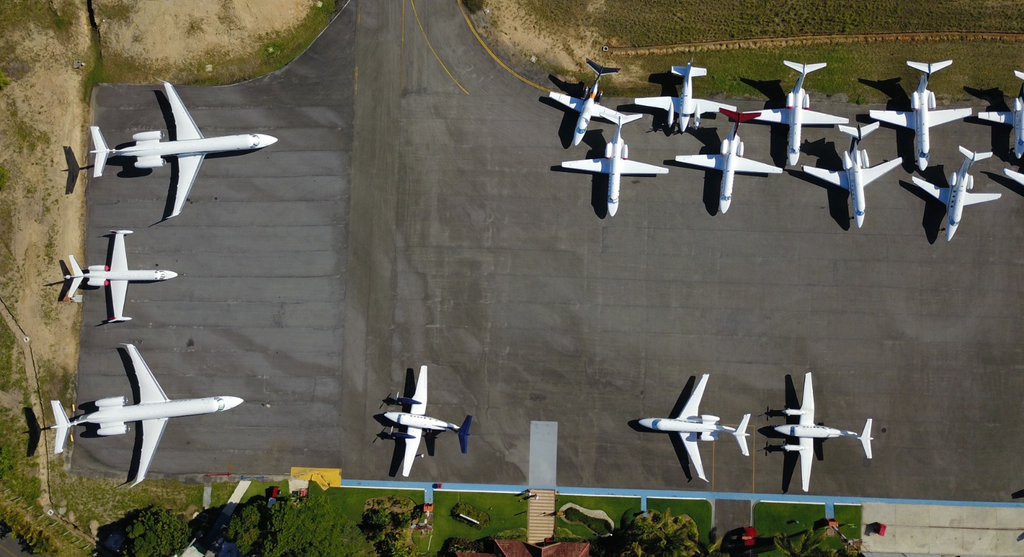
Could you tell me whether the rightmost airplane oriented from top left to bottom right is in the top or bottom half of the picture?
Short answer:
top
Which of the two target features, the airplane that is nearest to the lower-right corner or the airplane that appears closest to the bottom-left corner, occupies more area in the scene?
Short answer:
the airplane that appears closest to the bottom-left corner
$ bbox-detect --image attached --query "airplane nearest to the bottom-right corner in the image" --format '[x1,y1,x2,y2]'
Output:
[774,372,874,491]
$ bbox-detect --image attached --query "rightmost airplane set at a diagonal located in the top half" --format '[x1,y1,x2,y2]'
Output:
[1004,164,1024,187]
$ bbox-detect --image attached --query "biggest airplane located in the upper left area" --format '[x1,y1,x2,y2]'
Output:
[86,78,278,219]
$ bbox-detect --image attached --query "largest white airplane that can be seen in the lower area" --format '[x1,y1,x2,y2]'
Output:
[50,346,244,486]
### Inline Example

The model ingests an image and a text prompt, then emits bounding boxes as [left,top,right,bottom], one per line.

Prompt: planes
[384,364,473,476]
[549,58,626,145]
[870,59,973,170]
[677,107,783,213]
[562,111,669,216]
[915,146,1004,241]
[774,372,874,491]
[743,60,850,167]
[66,232,178,319]
[1004,164,1024,187]
[86,78,278,219]
[639,375,752,483]
[975,69,1024,158]
[805,122,907,228]
[50,346,244,486]
[635,57,738,131]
